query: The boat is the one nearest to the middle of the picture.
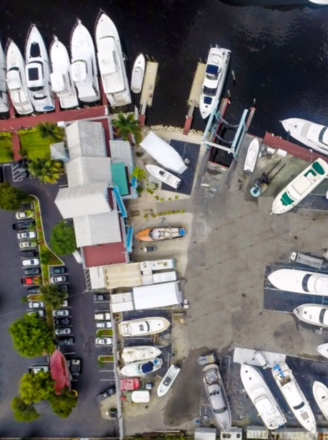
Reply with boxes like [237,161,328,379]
[135,227,187,242]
